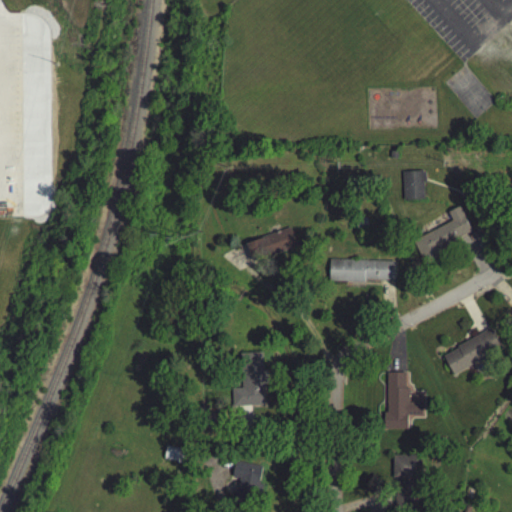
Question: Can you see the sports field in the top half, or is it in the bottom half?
top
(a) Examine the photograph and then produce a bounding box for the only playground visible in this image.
[368,88,438,128]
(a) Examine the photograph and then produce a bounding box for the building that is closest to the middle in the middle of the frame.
[246,228,298,260]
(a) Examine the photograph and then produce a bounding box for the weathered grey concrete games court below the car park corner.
[446,66,493,117]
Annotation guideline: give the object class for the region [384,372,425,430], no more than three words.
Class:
house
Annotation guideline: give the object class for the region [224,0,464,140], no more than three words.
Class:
sports field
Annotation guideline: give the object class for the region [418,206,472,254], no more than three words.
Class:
house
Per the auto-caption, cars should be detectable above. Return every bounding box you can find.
[224,462,234,469]
[394,358,400,370]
